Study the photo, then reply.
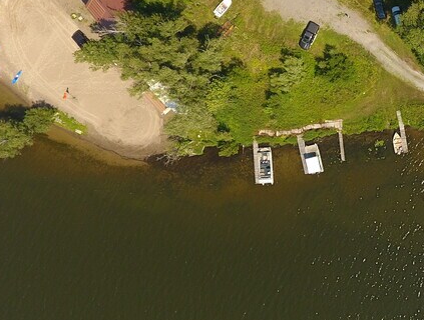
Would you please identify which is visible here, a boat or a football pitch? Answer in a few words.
boat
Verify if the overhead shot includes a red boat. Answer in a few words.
No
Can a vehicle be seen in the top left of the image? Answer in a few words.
Yes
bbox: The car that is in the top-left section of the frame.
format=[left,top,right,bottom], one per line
[67,28,92,50]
